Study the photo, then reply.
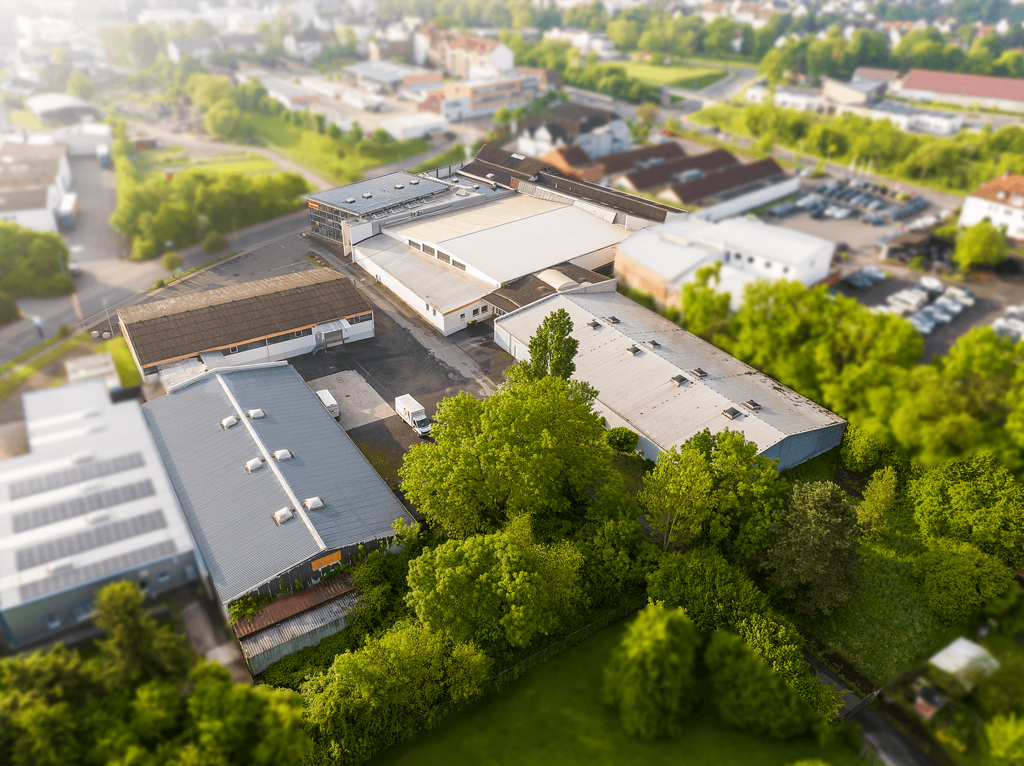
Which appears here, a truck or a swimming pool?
truck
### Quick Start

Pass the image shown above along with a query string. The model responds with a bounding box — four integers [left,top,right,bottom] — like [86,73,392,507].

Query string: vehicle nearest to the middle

[396,396,431,436]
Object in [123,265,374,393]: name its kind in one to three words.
building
